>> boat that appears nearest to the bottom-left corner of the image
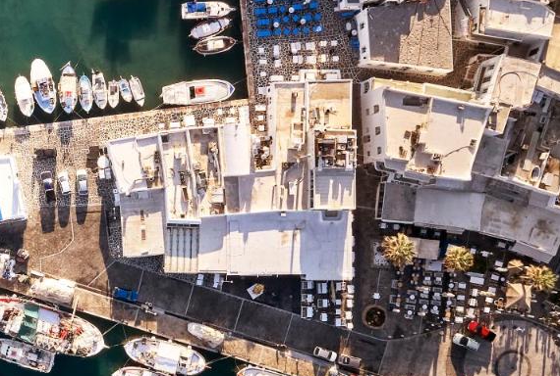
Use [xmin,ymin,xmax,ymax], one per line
[0,343,54,375]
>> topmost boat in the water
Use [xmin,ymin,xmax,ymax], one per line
[181,0,238,20]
